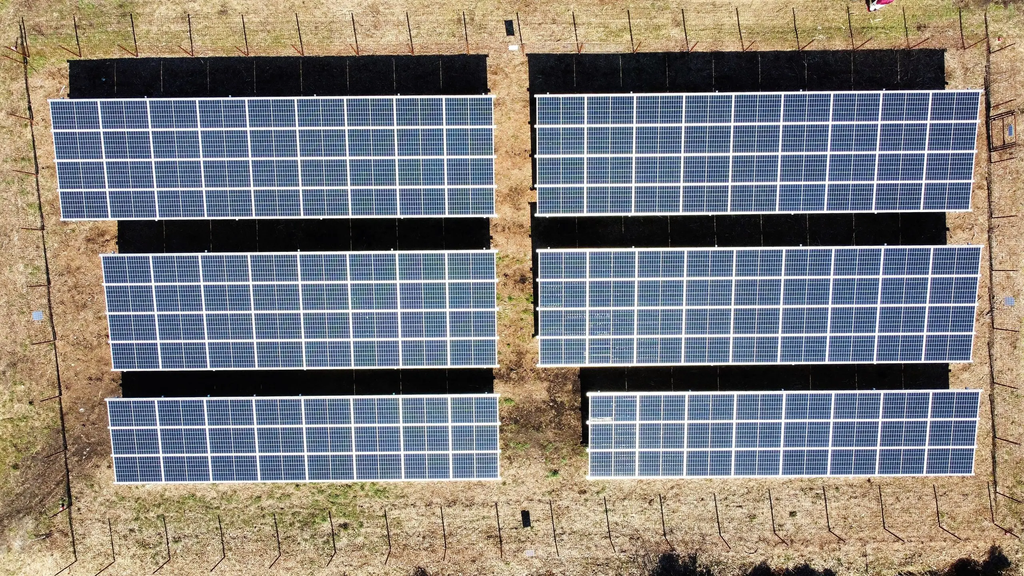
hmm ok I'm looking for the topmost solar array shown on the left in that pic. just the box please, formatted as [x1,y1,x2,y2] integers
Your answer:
[47,92,497,222]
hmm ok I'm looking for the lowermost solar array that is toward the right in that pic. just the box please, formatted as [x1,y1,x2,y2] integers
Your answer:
[586,385,983,480]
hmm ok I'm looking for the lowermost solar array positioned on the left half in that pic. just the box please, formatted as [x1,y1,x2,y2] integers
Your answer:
[105,390,501,485]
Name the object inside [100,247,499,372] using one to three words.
solar array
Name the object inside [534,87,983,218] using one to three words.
solar array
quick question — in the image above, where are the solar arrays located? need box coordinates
[586,385,983,480]
[47,92,497,222]
[105,390,501,485]
[537,241,984,368]
[100,247,499,372]
[534,87,983,218]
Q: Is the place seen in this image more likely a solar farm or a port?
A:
solar farm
